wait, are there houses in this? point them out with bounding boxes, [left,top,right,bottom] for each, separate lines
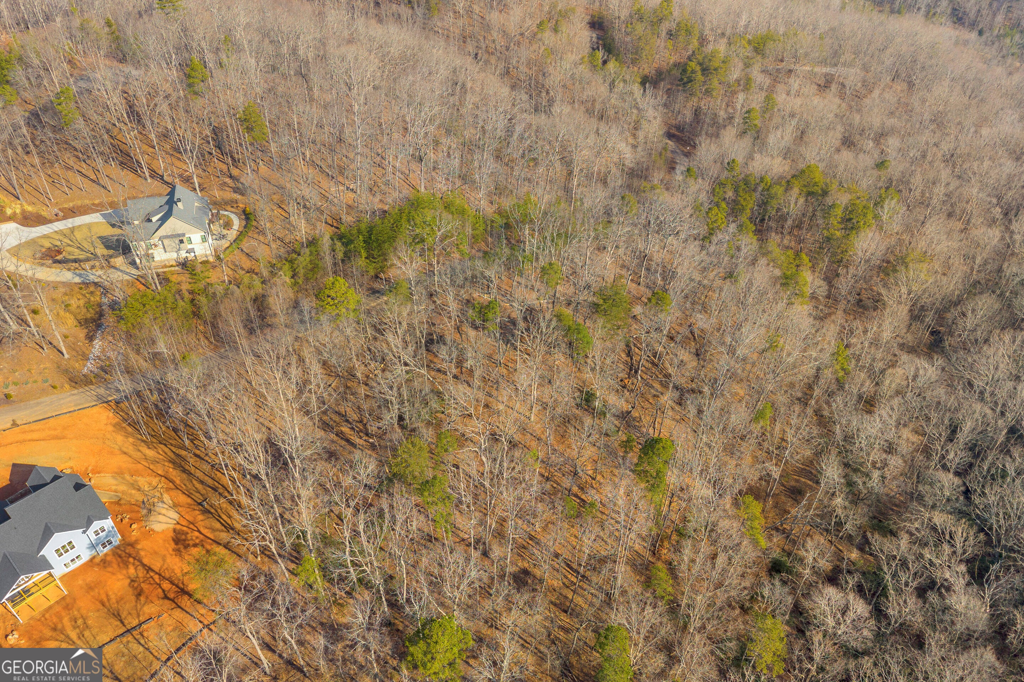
[127,184,215,269]
[0,466,123,624]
